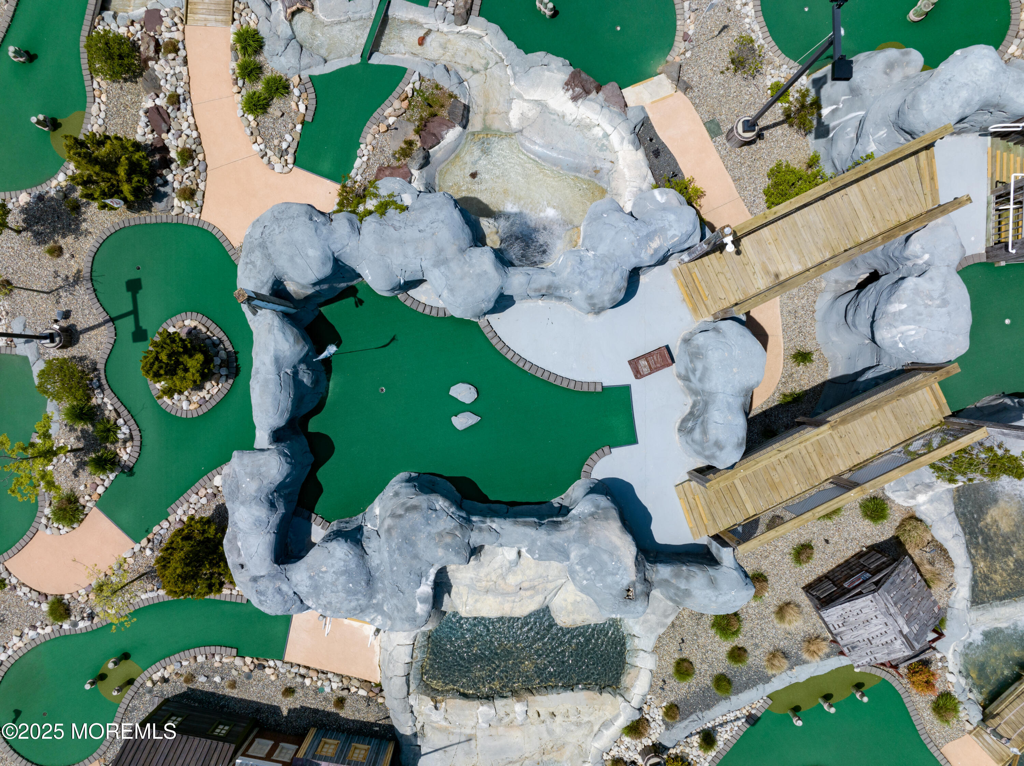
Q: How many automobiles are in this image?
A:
zero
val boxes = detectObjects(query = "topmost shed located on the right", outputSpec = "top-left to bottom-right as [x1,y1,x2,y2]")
[802,546,960,680]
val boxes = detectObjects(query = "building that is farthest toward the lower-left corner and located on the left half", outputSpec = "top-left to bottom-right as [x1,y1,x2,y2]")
[117,698,256,766]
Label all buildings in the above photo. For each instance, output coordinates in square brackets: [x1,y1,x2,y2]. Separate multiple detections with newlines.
[288,725,394,766]
[117,698,256,766]
[802,546,960,680]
